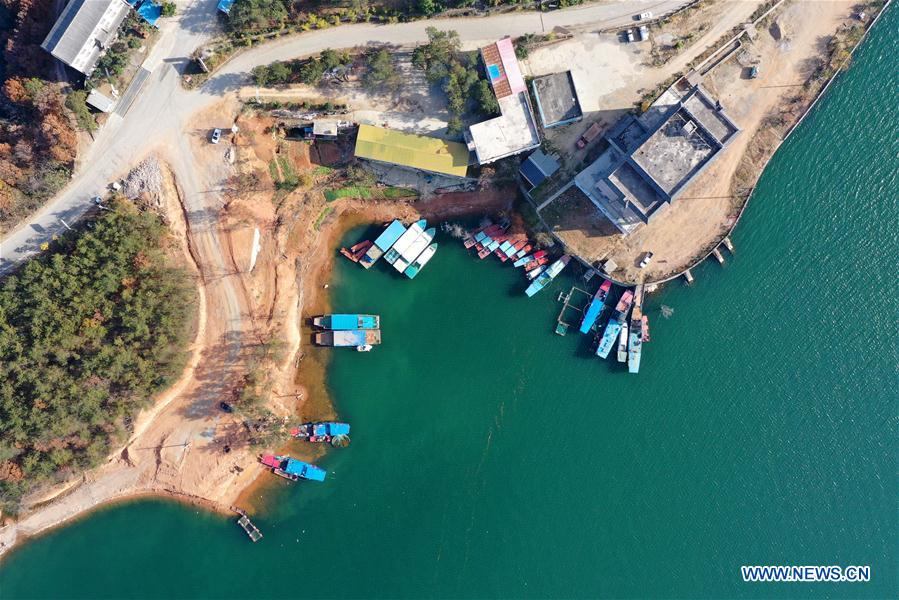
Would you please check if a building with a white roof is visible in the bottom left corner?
No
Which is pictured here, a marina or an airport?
marina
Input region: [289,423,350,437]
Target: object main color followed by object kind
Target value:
blue boat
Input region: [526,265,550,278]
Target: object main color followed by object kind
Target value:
white boat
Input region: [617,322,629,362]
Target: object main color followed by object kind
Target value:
white boat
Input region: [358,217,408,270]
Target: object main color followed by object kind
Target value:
blue boat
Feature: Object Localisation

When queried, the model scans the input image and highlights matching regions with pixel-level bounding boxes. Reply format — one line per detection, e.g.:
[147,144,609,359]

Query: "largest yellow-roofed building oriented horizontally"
[355,124,471,177]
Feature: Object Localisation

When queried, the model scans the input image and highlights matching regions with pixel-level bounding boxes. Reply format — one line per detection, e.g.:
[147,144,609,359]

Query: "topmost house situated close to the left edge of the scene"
[39,0,140,80]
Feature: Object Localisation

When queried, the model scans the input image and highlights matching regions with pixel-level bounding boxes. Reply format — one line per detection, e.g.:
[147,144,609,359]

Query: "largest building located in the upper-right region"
[573,76,743,237]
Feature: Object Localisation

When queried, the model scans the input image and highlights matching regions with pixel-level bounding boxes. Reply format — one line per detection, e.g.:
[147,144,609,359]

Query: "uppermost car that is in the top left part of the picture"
[209,127,221,142]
